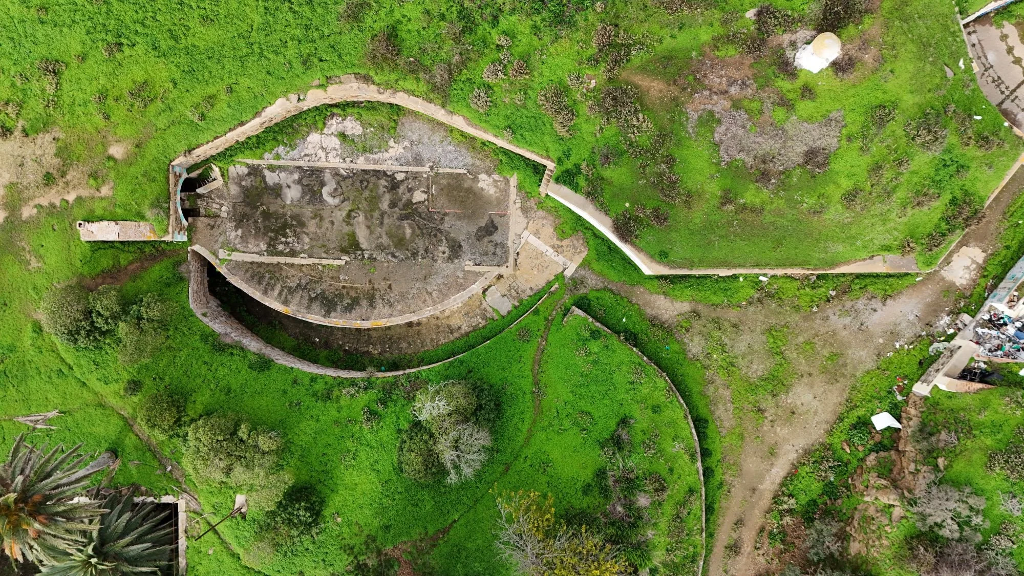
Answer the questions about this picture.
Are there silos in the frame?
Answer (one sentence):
No, no silo can be seen from above.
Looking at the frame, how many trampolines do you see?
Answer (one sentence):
The count of trampolines is 0.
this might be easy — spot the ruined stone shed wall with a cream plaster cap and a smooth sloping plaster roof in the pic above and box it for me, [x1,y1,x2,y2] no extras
[895,337,979,395]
